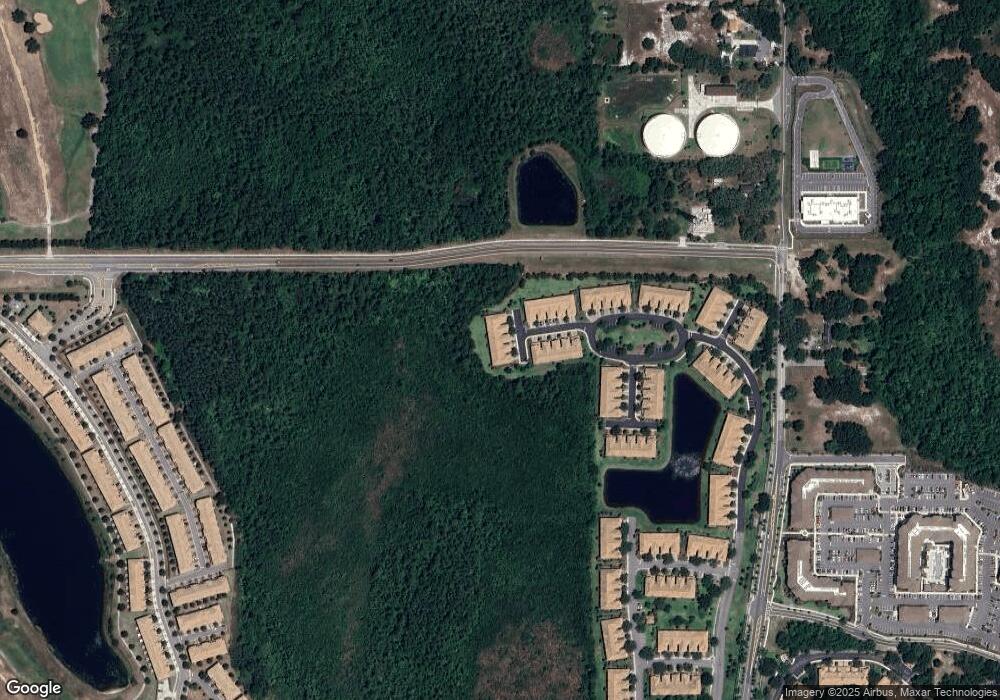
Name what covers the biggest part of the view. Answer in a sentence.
The scene is dominated by trees.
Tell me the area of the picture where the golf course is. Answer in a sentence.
You can find the golf course in the top left area of the picture.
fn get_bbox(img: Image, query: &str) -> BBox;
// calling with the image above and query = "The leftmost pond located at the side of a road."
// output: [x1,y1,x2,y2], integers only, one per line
[516,152,578,226]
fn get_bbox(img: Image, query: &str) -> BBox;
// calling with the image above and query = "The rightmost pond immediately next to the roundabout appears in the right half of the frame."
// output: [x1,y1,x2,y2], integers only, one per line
[604,374,721,524]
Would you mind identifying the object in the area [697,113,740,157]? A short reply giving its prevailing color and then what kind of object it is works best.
white storage tank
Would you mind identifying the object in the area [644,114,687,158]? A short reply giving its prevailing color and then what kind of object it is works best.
white storage tank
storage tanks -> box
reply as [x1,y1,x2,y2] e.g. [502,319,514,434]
[644,114,687,158]
[697,113,740,157]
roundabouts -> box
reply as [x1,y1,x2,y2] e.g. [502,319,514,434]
[587,312,687,363]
